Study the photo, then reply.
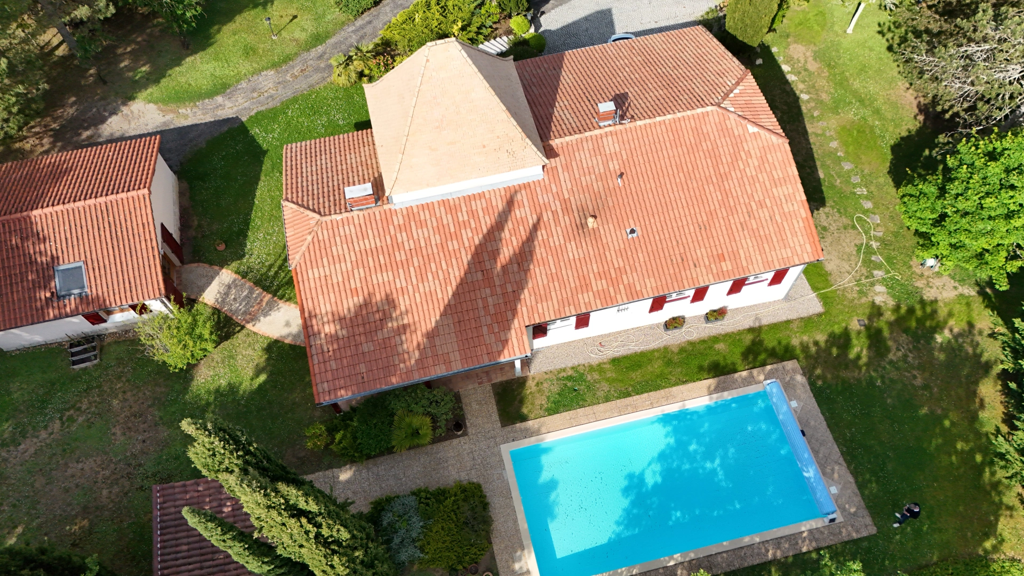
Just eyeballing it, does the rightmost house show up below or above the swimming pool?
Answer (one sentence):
The rightmost house is located above the swimming pool in this view.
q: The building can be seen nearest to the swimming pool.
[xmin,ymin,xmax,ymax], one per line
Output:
[280,25,824,407]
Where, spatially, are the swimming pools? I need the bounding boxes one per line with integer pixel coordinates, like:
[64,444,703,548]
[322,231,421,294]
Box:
[501,383,840,576]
